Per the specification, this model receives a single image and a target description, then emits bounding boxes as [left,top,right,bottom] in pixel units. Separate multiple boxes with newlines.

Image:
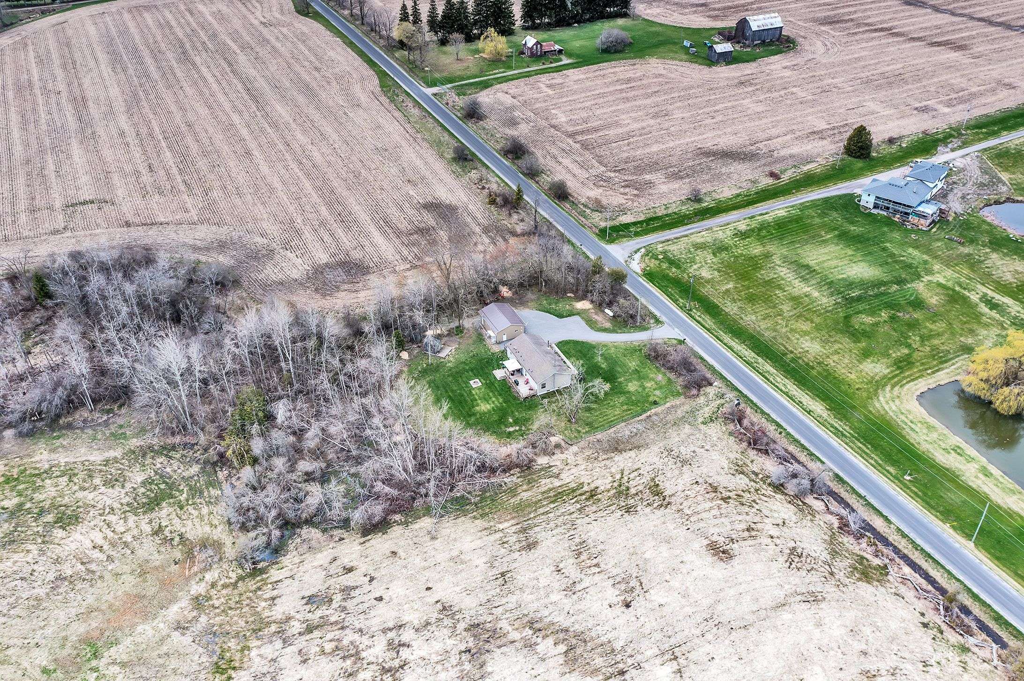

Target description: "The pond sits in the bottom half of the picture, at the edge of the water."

[917,374,1024,491]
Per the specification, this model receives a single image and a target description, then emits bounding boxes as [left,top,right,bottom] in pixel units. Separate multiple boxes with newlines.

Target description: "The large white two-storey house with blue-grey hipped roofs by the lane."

[861,161,950,223]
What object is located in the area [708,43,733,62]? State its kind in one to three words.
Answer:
shed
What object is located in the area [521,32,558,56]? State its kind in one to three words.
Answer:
house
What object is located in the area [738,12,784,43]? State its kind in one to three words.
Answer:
barn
